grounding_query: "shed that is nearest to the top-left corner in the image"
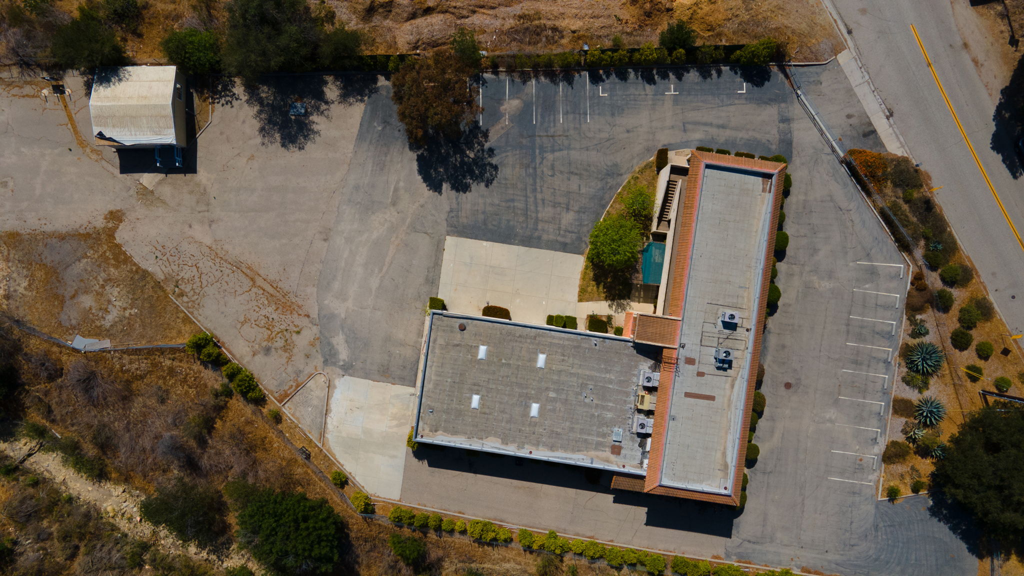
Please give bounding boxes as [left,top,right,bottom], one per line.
[87,66,186,150]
